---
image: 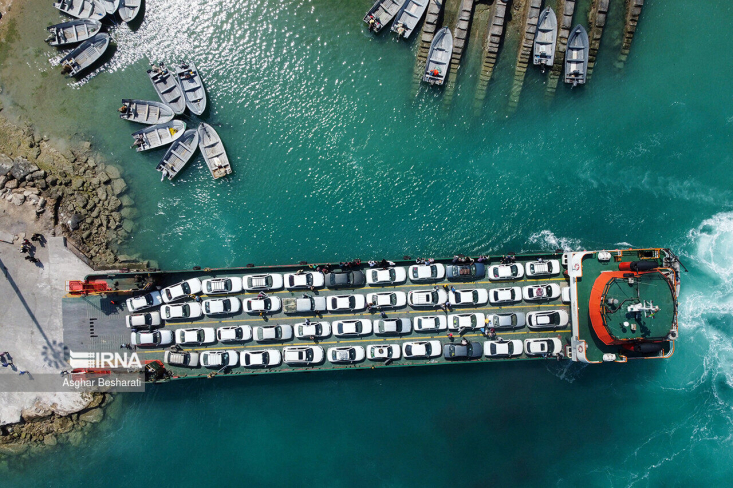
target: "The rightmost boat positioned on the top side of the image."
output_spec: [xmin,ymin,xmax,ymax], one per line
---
[564,25,587,87]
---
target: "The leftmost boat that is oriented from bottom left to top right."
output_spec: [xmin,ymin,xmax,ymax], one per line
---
[58,34,112,77]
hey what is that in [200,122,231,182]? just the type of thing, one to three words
boat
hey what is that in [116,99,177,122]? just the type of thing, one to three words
boat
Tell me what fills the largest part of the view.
water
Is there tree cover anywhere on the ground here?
No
